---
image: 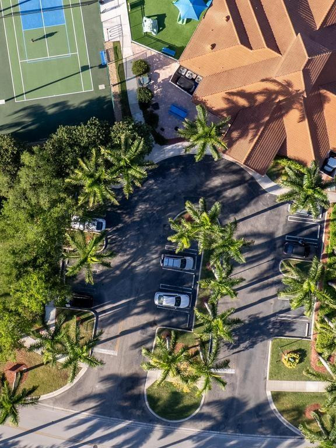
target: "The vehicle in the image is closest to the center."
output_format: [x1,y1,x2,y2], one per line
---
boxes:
[161,254,195,272]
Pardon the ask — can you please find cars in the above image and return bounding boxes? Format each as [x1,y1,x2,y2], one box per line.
[72,216,106,232]
[280,240,315,257]
[154,290,190,309]
[288,201,322,216]
[161,254,195,272]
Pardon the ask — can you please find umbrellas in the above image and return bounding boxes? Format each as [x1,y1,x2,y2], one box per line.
[174,0,208,21]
